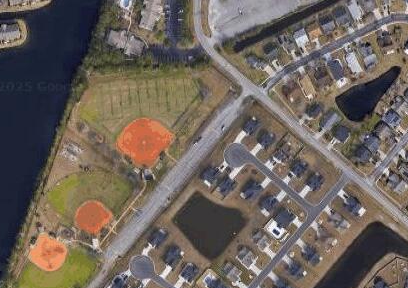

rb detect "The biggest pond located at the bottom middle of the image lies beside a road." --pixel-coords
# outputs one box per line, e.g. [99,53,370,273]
[173,191,243,261]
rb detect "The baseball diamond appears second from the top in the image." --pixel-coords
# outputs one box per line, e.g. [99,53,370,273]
[48,168,134,235]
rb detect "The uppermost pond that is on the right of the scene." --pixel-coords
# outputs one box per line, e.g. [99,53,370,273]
[336,66,400,121]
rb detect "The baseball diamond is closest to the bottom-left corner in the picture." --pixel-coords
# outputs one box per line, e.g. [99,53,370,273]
[18,231,101,288]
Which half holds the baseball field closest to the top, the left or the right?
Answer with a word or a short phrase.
left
